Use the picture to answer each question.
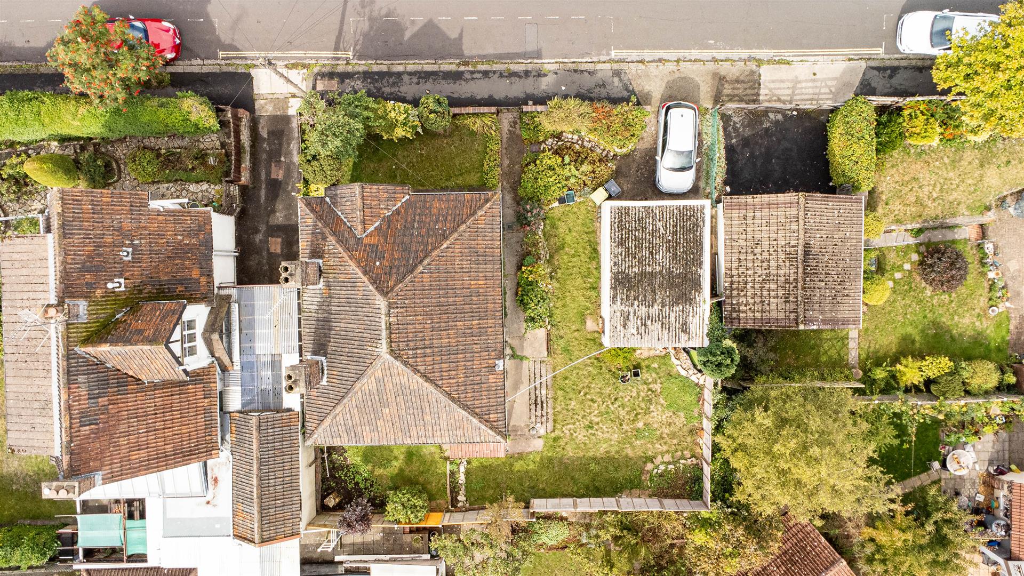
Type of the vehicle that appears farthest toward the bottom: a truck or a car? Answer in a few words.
car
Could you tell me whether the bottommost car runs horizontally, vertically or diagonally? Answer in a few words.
vertically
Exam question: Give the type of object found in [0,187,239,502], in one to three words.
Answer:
house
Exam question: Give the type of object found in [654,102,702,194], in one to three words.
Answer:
car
